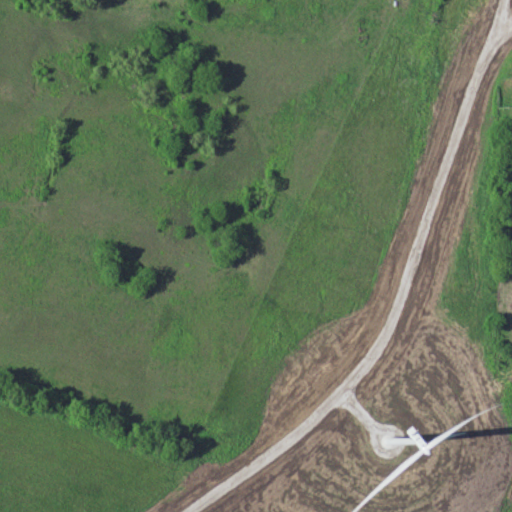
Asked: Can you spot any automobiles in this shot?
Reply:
No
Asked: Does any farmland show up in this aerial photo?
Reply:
Yes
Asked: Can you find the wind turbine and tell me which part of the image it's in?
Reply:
bottom right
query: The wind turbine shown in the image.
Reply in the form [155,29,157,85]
[352,406,502,512]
